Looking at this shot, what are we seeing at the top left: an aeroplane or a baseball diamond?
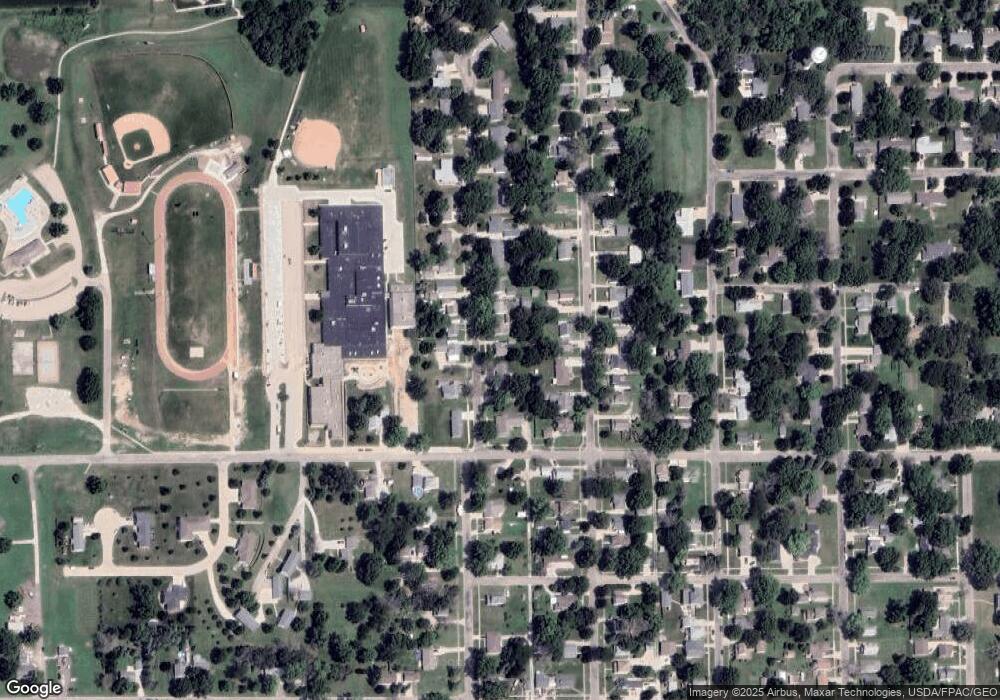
baseball diamond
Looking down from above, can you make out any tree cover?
Yes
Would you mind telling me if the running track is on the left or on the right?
left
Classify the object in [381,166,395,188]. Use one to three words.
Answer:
shed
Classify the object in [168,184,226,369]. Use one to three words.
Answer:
sports field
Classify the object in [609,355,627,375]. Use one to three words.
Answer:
house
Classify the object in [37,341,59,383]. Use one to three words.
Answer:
sports court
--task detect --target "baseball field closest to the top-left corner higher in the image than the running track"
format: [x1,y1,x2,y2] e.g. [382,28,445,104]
[94,54,232,172]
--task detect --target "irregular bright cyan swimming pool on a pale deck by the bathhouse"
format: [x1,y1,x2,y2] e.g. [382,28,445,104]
[0,176,50,270]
